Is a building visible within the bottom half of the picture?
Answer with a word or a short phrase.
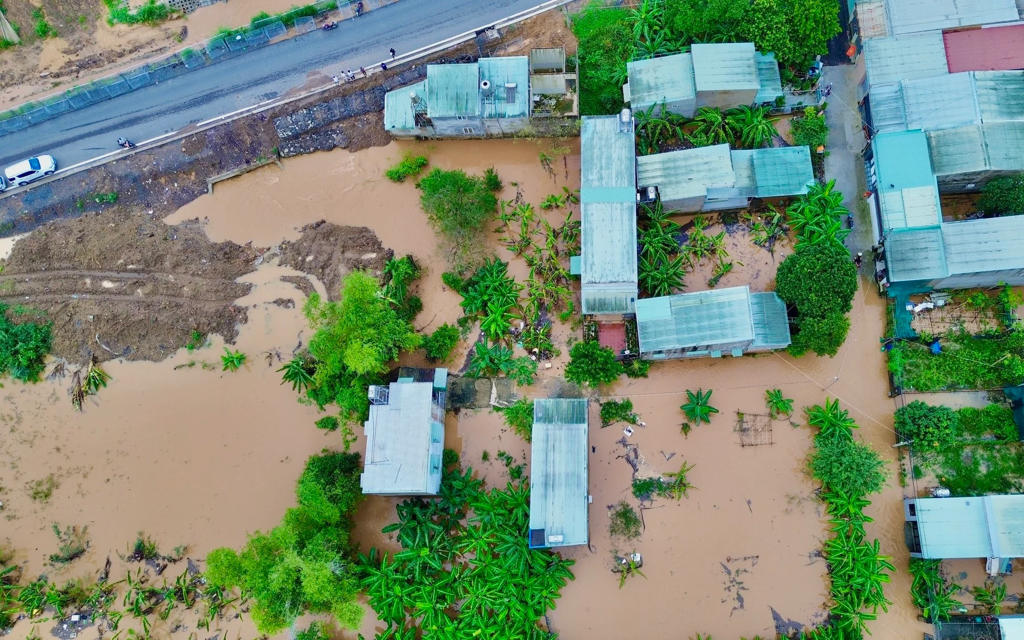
Yes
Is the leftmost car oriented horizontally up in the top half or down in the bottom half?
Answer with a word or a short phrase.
top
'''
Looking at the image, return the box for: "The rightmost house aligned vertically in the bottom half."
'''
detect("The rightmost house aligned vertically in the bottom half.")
[529,395,593,549]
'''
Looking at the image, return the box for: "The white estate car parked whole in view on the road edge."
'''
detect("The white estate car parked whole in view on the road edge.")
[3,160,55,190]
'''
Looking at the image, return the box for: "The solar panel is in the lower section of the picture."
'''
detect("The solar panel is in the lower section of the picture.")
[529,529,545,546]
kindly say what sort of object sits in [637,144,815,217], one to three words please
house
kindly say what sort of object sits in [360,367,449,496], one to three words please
house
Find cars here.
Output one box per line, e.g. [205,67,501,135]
[0,176,8,196]
[3,160,55,190]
